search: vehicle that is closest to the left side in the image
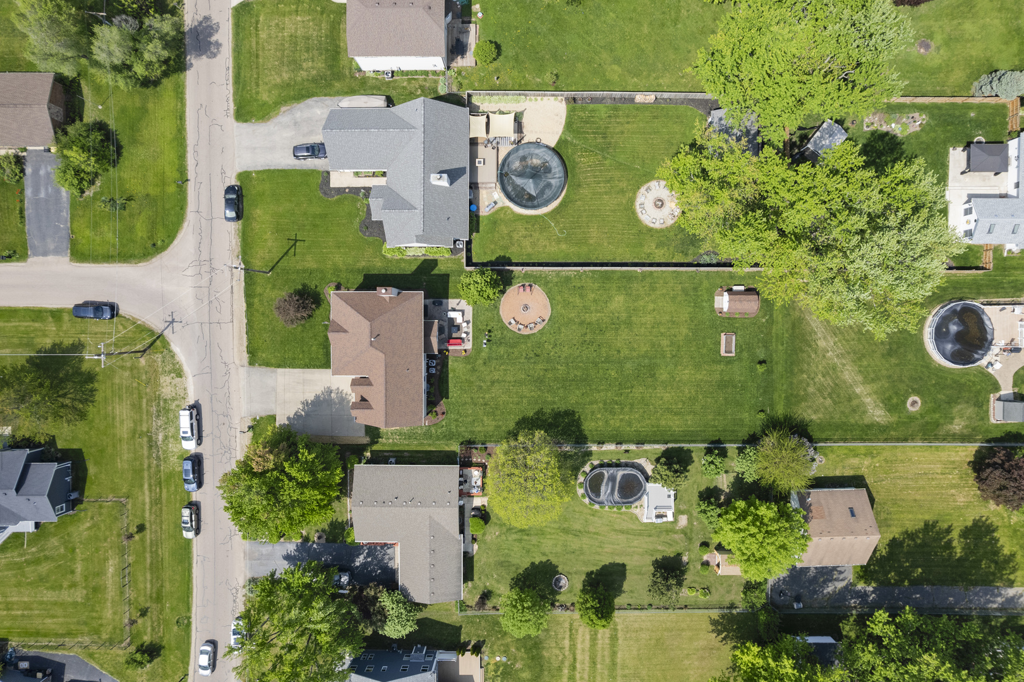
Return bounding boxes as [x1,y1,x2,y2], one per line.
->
[72,301,120,320]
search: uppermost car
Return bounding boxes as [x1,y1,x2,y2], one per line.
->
[293,142,328,160]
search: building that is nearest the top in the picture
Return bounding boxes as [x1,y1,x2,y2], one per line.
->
[345,0,445,69]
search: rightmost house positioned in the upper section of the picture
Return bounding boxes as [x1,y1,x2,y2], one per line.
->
[961,130,1024,266]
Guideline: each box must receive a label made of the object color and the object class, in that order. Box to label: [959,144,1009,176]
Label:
gray gazebo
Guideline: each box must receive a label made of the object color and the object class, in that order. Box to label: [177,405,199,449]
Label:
white car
